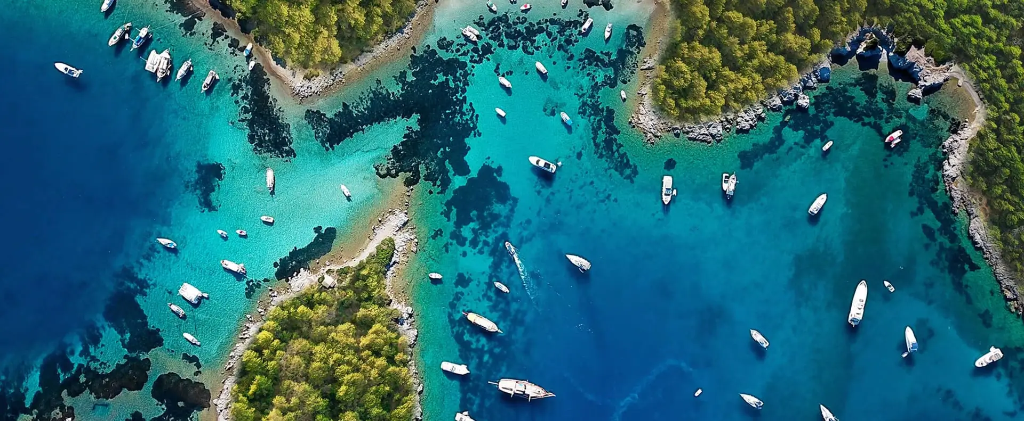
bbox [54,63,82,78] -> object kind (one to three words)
boat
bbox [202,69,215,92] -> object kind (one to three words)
boat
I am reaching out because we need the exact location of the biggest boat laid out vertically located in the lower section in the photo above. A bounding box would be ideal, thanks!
[848,281,867,326]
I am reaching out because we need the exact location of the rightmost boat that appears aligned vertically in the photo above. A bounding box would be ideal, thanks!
[905,327,918,354]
